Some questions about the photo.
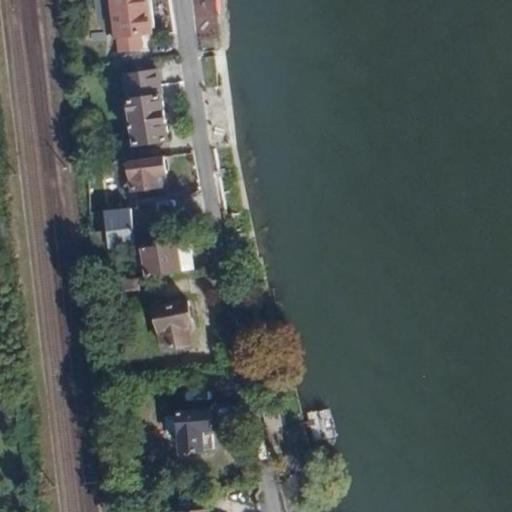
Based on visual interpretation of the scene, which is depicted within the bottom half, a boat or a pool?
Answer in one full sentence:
Looking within the bottom half, you will find a boat.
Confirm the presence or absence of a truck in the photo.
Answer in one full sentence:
No, there's no truck here.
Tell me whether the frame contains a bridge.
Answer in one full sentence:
No, there's no bridge here.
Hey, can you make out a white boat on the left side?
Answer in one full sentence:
No, there's no white boat to be seen on the left side.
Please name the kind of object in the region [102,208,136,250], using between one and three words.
house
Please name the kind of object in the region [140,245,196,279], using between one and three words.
house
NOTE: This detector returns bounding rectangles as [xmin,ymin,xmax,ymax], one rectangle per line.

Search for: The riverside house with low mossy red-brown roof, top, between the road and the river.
[193,0,225,54]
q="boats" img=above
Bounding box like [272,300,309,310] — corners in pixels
[306,408,339,446]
